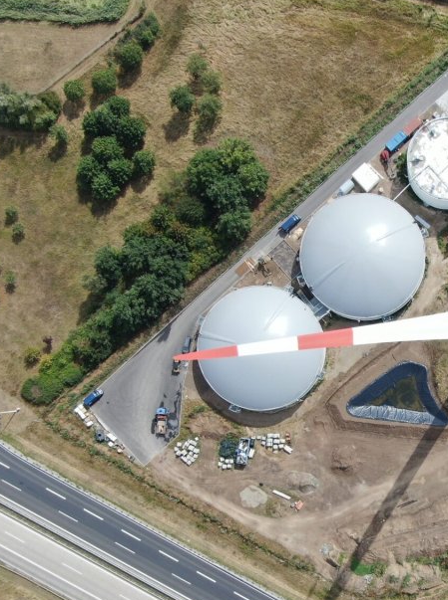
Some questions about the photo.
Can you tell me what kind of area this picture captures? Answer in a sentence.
It's an industrial area.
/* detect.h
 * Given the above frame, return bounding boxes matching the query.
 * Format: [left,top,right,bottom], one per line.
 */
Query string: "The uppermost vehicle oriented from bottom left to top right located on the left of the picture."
[82,389,103,406]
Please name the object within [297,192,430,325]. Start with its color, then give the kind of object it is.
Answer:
white storage tank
